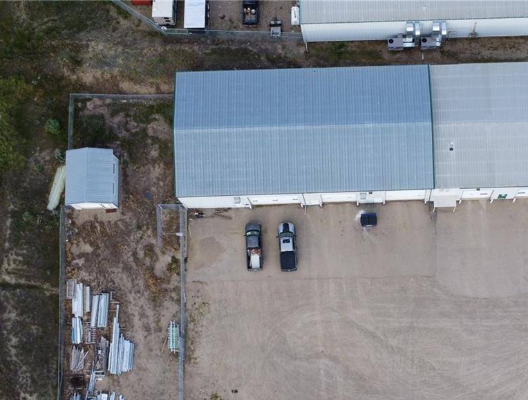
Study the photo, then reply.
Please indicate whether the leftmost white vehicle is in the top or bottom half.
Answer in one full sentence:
Seen from above, the leftmost white vehicle lies in the top half of the view.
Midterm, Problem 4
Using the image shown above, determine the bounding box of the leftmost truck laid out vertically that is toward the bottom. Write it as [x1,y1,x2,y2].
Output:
[242,222,265,271]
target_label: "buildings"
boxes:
[172,62,528,212]
[65,147,119,214]
[299,0,528,54]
